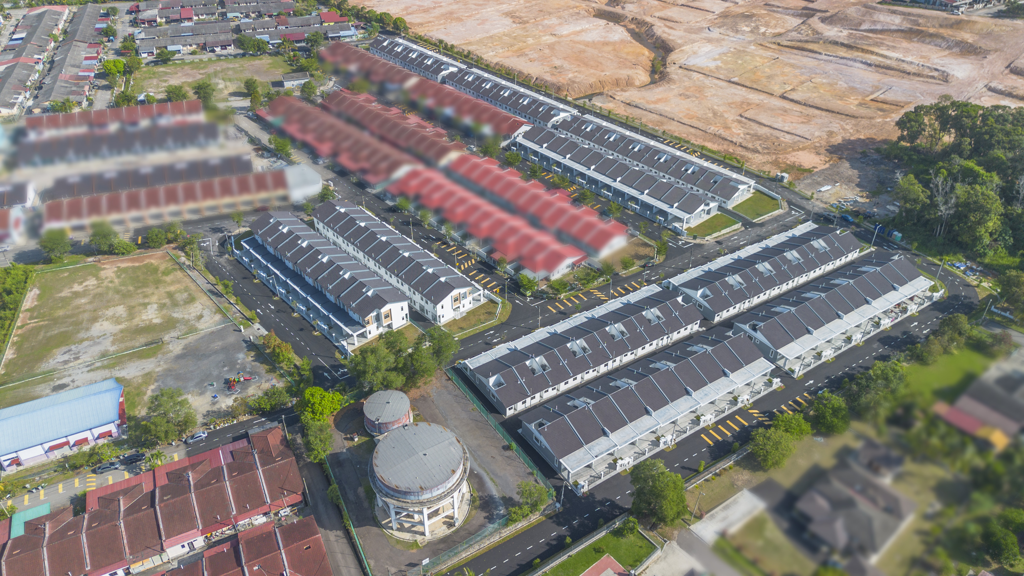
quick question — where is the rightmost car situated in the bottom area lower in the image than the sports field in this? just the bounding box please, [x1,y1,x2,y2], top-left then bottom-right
[185,432,207,445]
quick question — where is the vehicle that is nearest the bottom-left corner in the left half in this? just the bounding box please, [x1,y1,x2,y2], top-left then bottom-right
[95,462,119,475]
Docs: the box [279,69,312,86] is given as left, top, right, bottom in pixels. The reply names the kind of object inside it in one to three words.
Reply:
building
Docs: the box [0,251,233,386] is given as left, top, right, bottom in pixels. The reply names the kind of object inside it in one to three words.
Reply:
sports field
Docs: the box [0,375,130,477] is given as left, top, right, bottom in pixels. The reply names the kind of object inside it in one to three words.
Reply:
building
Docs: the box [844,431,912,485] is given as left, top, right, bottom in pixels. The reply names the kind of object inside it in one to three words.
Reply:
house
